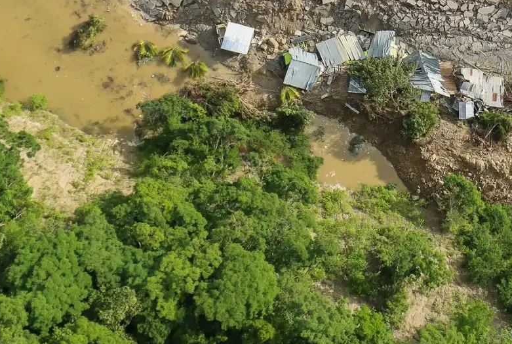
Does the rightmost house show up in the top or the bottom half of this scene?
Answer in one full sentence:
You can find the rightmost house in the top half.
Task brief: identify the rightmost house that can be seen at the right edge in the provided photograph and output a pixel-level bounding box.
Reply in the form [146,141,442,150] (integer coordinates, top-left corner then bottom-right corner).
[458,68,504,110]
